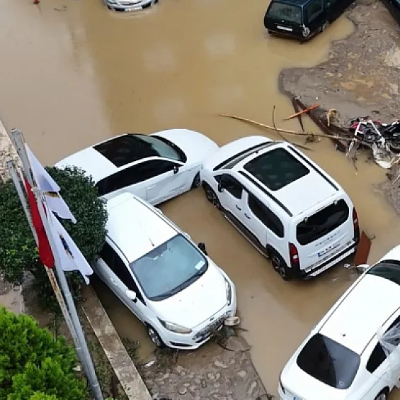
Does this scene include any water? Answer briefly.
Yes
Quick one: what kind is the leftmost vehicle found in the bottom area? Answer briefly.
automobile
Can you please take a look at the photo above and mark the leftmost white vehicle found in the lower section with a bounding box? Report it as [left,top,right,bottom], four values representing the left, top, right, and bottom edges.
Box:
[92,191,233,338]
